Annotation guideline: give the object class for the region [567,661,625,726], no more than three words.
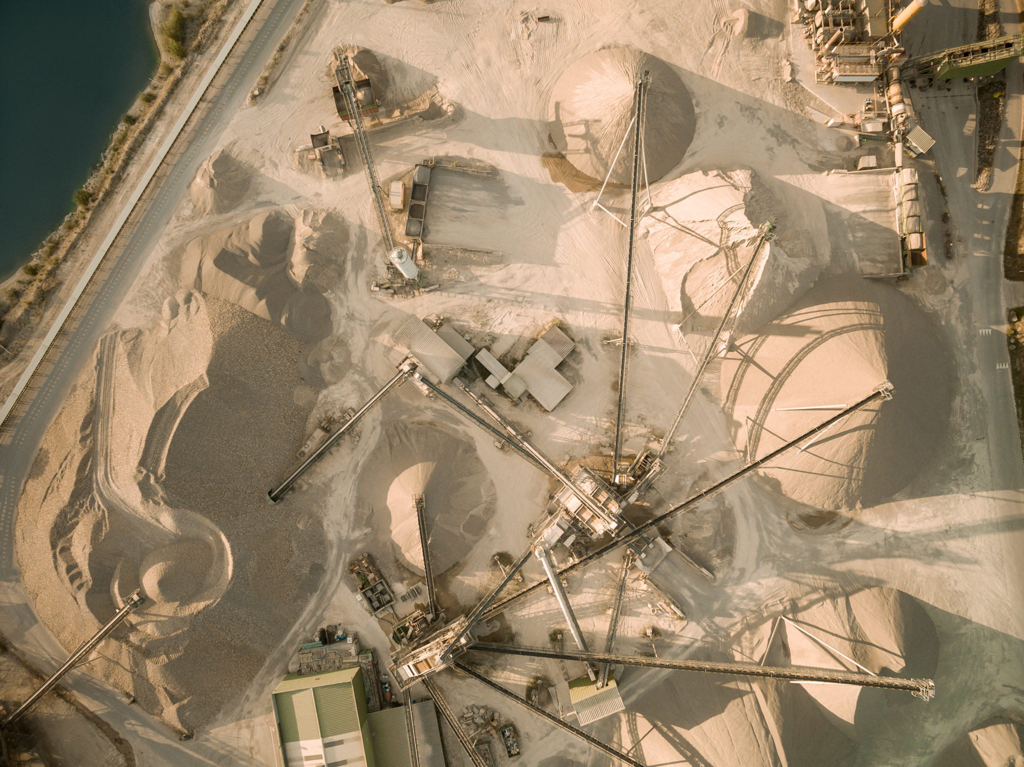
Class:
shed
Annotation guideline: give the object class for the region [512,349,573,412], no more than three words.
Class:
building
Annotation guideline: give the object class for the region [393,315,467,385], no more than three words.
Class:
building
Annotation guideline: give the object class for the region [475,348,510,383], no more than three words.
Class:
shed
